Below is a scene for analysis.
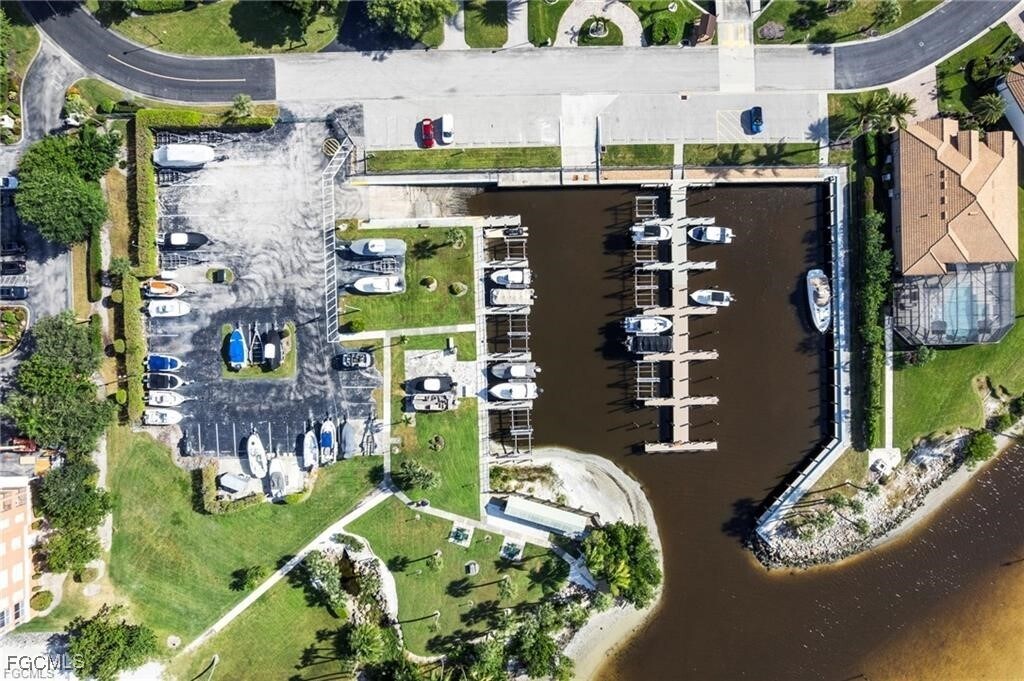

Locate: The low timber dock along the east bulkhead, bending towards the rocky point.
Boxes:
[756,187,841,533]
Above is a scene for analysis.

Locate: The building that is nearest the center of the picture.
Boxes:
[504,496,587,533]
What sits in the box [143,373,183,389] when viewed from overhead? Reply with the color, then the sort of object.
black boat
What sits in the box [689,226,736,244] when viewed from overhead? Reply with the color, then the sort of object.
white boat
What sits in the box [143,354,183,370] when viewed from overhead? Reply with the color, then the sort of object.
blue boat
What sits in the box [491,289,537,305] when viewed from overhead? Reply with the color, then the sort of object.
white boat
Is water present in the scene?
Yes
